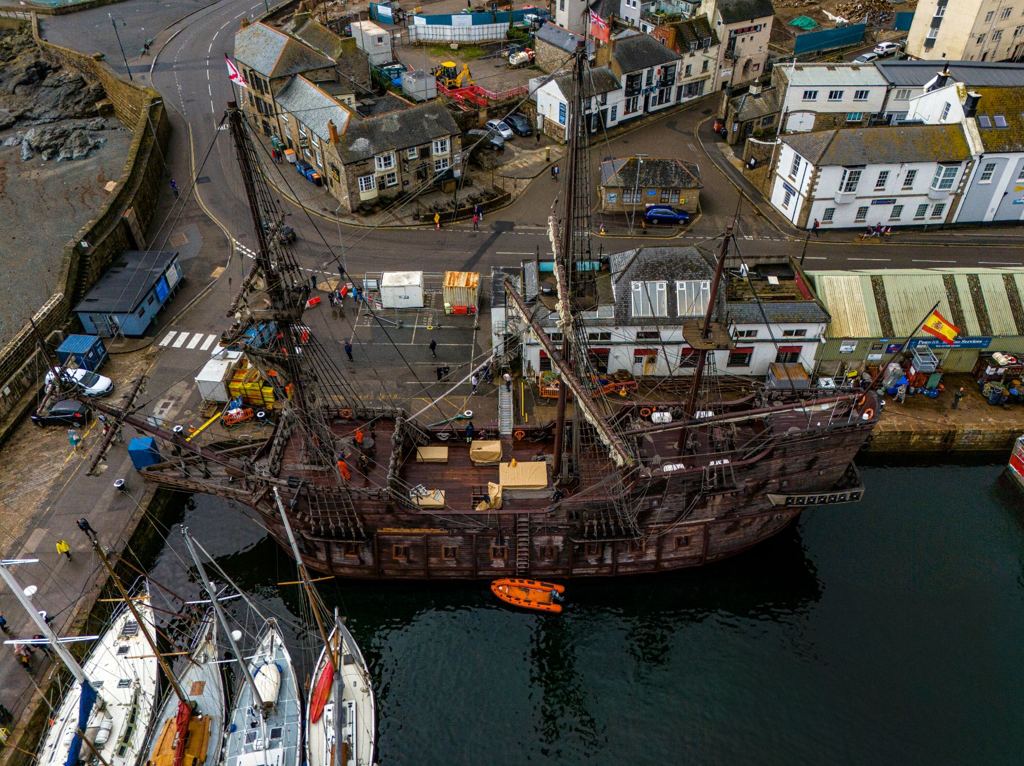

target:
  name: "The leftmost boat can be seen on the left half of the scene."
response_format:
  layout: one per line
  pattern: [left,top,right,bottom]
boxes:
[0,527,158,766]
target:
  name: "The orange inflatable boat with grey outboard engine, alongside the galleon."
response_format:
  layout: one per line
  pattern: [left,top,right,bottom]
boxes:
[490,580,572,615]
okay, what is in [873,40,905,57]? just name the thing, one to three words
car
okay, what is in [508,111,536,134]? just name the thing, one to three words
car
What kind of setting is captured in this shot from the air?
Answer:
port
